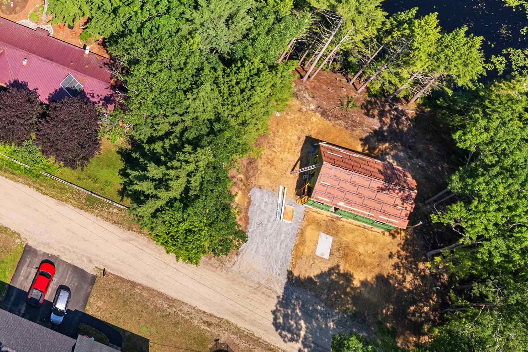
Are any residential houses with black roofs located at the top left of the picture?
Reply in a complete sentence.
No, no residential house with a black roof appears at the top left of the picture.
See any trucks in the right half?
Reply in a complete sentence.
No, no truck is visible in the right half.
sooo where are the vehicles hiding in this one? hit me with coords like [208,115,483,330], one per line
[28,257,53,309]
[51,282,72,327]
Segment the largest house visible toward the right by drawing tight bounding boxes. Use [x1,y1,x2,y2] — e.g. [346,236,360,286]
[299,143,420,233]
